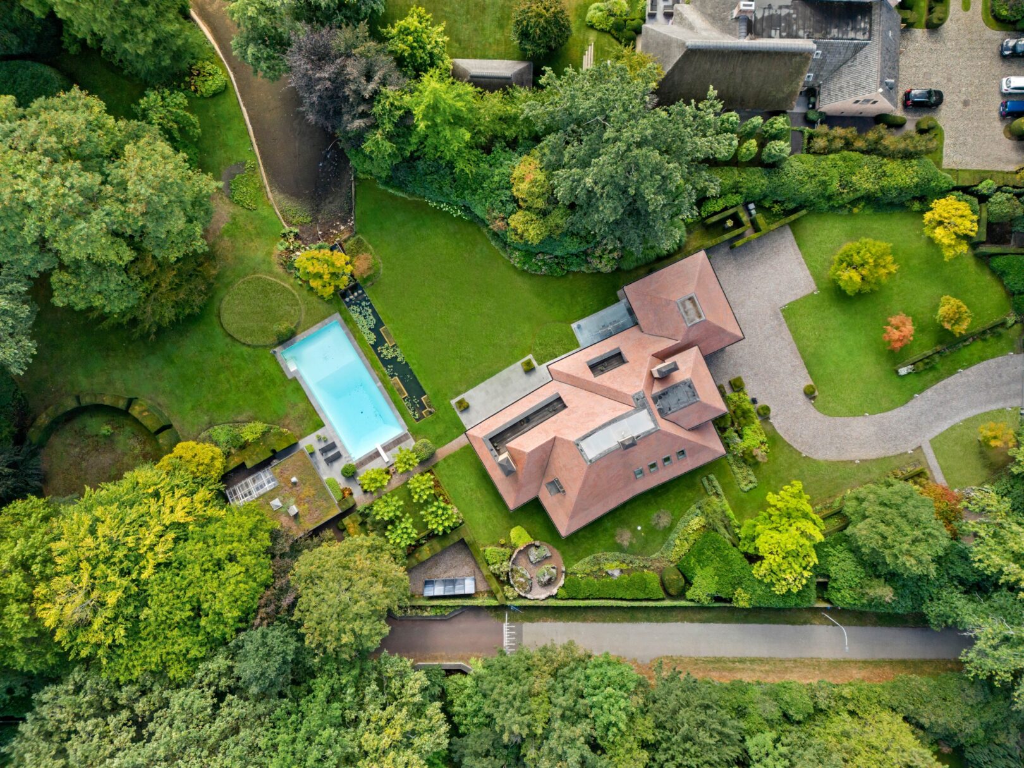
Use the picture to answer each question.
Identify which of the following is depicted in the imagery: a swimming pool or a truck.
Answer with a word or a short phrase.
swimming pool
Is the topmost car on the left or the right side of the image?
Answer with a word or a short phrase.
right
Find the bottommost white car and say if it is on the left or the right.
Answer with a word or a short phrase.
right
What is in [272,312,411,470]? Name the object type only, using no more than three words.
swimming pool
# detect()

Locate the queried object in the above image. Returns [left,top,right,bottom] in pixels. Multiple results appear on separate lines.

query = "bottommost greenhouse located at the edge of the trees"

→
[423,574,475,596]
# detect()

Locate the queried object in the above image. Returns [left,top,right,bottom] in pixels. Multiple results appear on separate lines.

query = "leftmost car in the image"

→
[901,86,944,109]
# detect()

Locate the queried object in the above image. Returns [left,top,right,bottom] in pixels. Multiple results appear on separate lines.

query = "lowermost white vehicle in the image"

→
[997,76,1024,96]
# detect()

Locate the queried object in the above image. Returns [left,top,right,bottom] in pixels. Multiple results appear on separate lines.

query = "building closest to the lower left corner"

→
[226,447,344,543]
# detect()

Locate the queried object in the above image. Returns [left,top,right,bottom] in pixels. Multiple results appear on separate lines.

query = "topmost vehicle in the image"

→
[997,37,1024,60]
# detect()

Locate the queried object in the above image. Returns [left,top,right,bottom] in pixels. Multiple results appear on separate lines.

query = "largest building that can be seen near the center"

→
[464,249,746,539]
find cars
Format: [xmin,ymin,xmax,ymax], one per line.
[997,37,1024,60]
[901,86,944,109]
[997,76,1024,96]
[997,101,1024,120]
